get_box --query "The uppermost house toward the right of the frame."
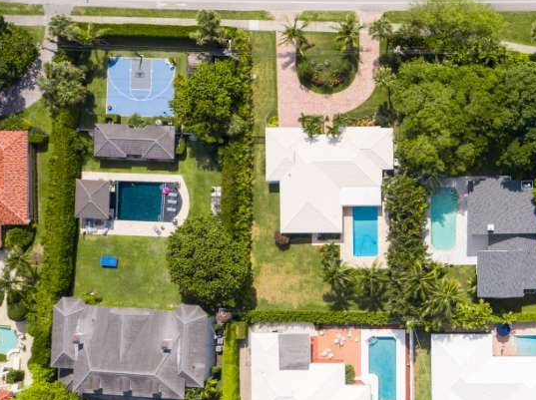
[266,126,394,233]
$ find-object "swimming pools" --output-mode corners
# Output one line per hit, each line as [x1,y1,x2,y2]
[351,206,379,258]
[0,323,20,356]
[367,335,398,400]
[428,179,460,251]
[511,333,536,356]
[117,180,164,222]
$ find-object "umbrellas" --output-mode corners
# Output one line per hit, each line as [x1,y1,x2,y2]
[496,322,511,337]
